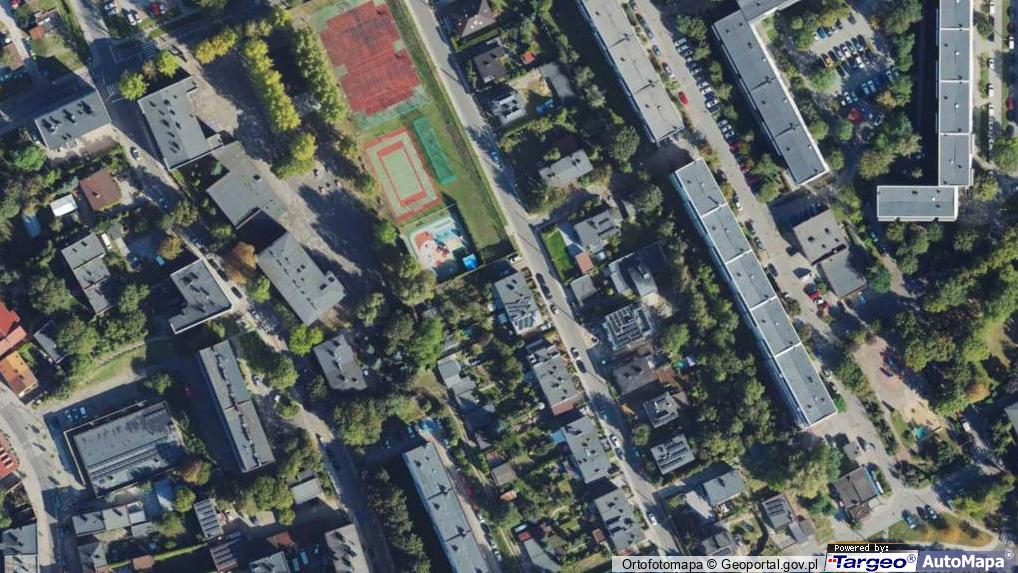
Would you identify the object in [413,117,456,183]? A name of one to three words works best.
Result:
sports court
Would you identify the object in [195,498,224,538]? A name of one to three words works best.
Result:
building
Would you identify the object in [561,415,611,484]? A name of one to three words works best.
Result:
house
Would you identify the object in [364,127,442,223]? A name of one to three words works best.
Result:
sports court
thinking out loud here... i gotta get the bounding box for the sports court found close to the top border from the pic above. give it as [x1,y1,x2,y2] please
[309,0,430,130]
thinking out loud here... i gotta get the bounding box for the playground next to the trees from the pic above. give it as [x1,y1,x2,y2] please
[402,210,482,280]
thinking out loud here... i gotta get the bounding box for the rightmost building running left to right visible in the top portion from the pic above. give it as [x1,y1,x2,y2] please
[873,186,956,221]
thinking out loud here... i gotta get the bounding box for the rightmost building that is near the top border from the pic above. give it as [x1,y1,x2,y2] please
[933,0,972,187]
